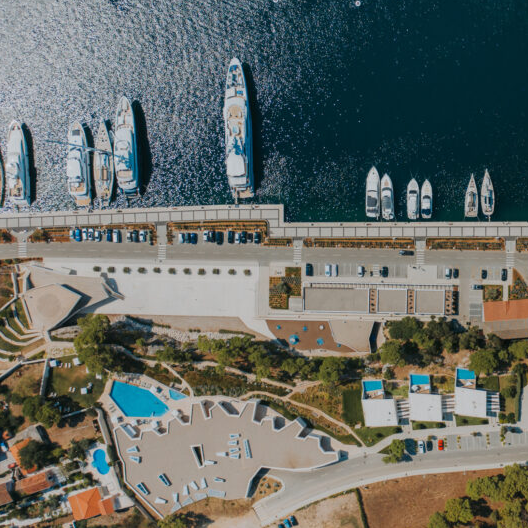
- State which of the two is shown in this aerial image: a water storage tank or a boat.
boat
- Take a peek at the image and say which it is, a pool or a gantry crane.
pool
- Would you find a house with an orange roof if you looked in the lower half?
Yes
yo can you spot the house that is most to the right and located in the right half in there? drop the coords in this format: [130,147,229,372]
[484,300,528,339]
